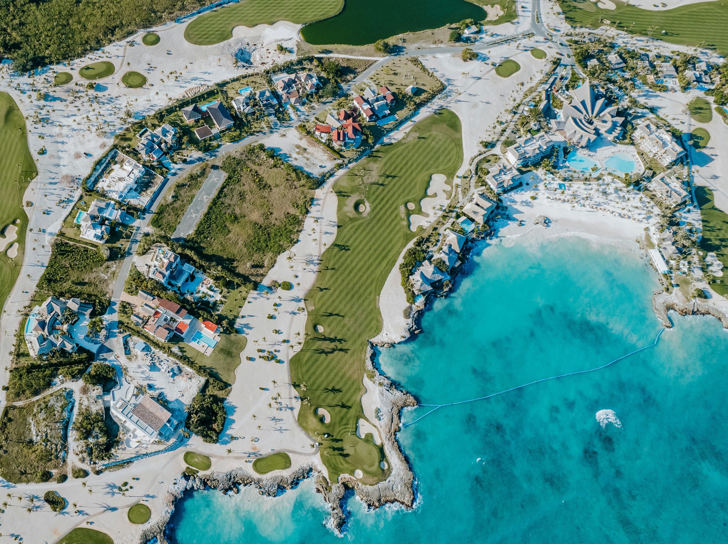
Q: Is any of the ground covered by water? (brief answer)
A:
Yes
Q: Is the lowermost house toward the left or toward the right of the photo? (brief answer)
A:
left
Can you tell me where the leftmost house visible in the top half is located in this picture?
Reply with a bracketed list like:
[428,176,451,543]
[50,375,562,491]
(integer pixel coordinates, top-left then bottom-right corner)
[97,159,147,204]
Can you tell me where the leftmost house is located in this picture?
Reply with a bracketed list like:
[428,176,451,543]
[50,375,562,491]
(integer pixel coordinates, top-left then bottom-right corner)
[26,296,93,358]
